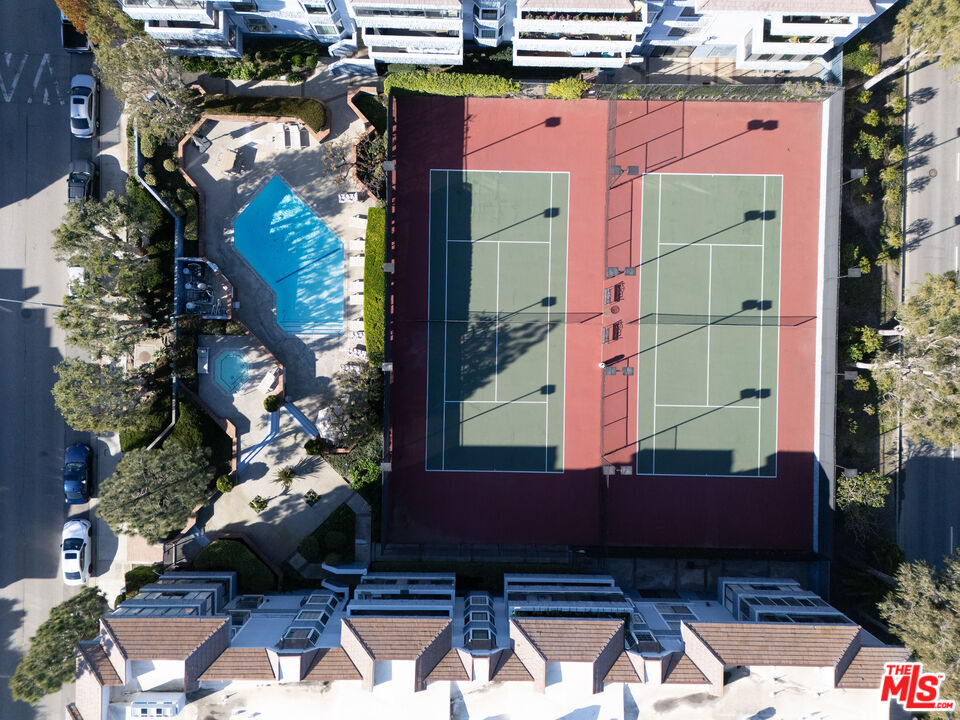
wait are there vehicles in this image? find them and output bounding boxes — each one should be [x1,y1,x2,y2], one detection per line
[57,8,90,52]
[66,75,98,140]
[58,518,92,586]
[62,156,98,218]
[59,444,93,502]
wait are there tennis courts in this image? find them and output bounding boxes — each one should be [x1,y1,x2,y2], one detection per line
[600,98,823,553]
[388,97,608,550]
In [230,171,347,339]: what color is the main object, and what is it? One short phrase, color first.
blue swimming pool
